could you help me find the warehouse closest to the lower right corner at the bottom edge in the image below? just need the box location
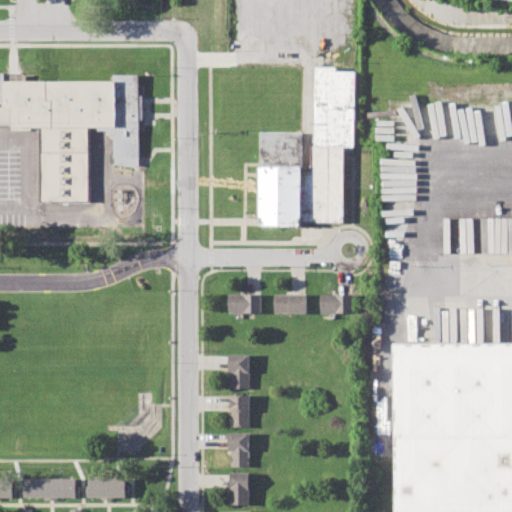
[393,344,512,512]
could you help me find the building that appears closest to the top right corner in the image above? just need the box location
[313,66,356,148]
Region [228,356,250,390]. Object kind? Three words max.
house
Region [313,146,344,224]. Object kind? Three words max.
building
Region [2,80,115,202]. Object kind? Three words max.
building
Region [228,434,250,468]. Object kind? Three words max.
house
